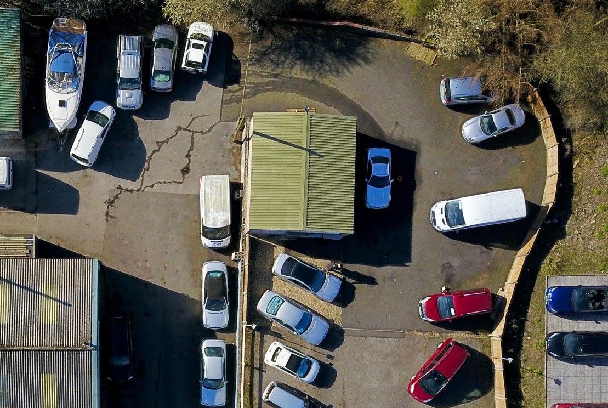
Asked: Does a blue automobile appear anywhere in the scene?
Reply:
Yes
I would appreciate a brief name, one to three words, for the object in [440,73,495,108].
car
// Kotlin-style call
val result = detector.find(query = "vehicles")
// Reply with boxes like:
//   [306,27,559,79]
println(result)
[262,341,321,386]
[198,173,234,248]
[148,24,182,93]
[200,261,234,329]
[546,282,608,317]
[256,287,331,348]
[440,73,495,108]
[272,250,343,303]
[426,184,534,233]
[66,101,117,169]
[546,328,608,363]
[416,287,497,326]
[260,379,320,408]
[0,157,13,191]
[362,148,396,209]
[181,20,217,77]
[459,103,526,145]
[112,33,148,110]
[197,339,231,406]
